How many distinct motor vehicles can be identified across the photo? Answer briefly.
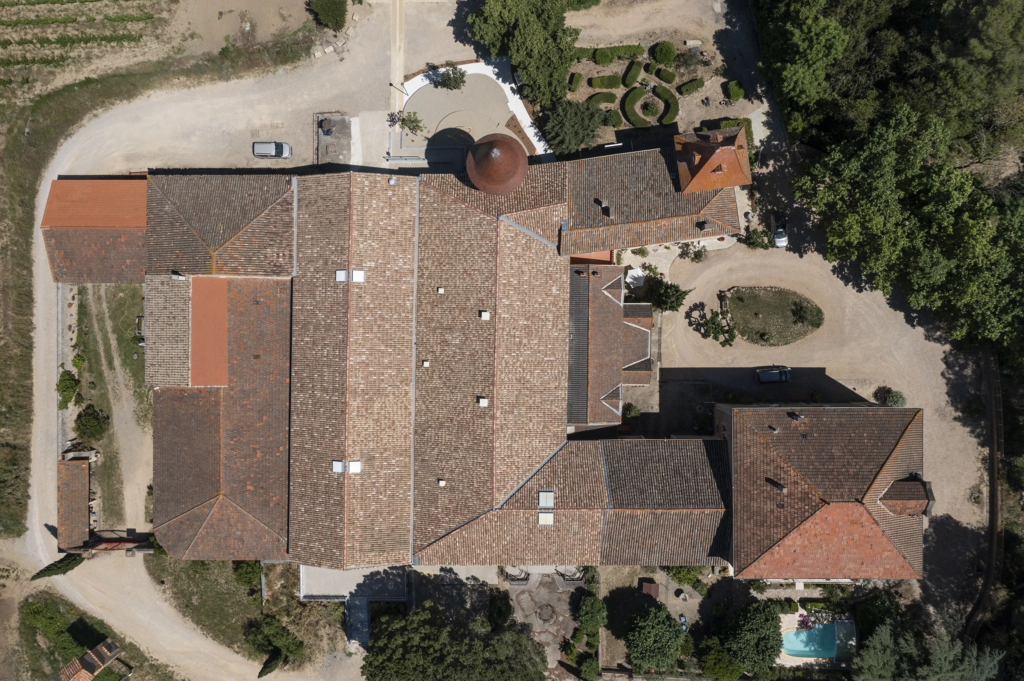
3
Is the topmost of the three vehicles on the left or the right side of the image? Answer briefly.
left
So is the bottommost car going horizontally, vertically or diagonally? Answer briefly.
horizontally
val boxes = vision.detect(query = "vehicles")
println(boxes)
[250,138,293,159]
[754,365,792,385]
[770,210,792,250]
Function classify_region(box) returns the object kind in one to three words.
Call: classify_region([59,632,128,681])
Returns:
shed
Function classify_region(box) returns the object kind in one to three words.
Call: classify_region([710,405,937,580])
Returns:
house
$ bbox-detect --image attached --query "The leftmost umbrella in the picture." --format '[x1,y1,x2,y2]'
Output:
[625,268,646,287]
